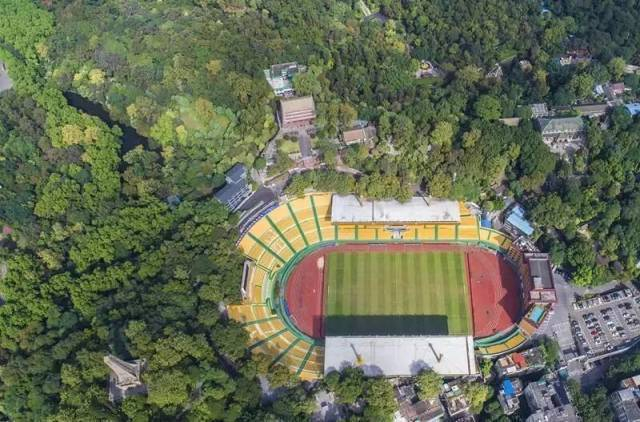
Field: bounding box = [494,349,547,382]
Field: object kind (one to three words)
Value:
building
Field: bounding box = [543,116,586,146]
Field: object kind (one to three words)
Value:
building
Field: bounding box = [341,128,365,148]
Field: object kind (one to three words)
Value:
house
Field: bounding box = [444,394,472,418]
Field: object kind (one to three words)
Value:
house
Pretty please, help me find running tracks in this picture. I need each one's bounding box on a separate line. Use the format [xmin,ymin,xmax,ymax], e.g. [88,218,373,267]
[284,241,520,341]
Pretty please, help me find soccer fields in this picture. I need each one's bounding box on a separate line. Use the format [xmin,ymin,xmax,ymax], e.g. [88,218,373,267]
[324,250,471,338]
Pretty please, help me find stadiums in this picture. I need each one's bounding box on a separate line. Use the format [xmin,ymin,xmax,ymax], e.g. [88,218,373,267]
[234,189,524,393]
